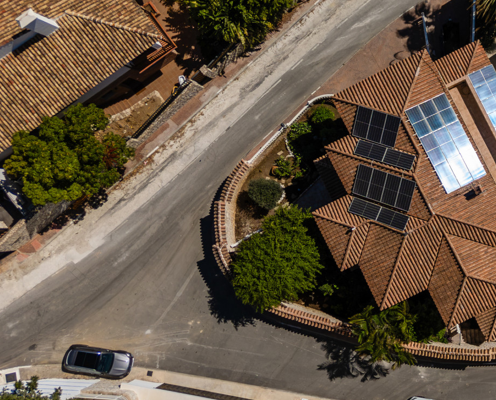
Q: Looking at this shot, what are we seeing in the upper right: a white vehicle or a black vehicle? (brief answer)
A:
black vehicle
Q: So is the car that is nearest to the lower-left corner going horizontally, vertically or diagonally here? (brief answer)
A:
horizontally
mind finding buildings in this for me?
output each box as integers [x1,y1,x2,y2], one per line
[310,41,496,344]
[0,0,165,156]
